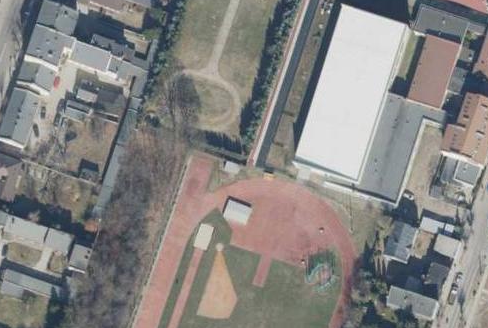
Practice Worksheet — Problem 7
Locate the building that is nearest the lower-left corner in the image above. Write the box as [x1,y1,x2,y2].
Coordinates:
[1,267,60,299]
